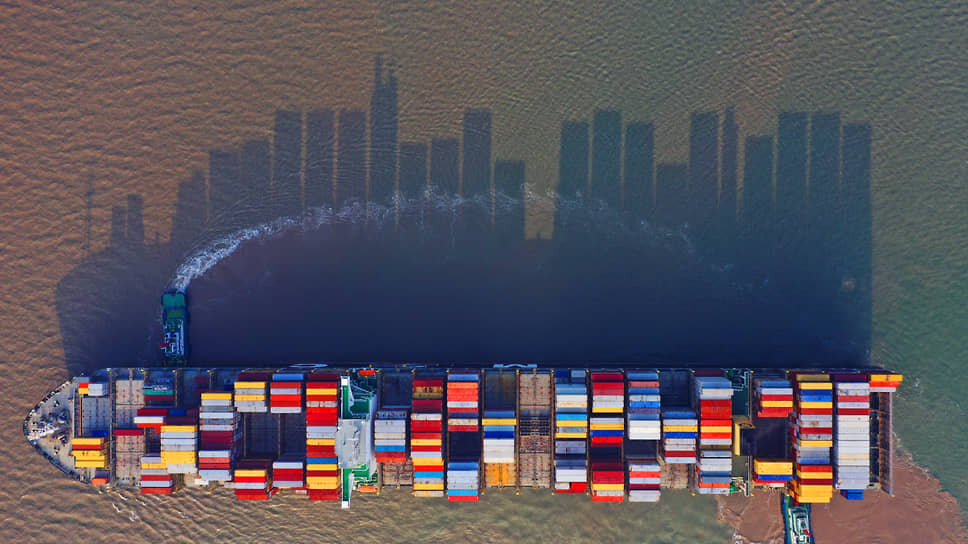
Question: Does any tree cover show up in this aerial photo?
No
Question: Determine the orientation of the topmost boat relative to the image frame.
up and down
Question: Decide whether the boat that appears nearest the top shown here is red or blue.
blue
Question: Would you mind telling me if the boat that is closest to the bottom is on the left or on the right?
right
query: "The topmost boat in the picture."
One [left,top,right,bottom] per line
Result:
[157,290,190,366]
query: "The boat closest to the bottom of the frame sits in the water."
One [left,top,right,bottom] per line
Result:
[784,489,819,544]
